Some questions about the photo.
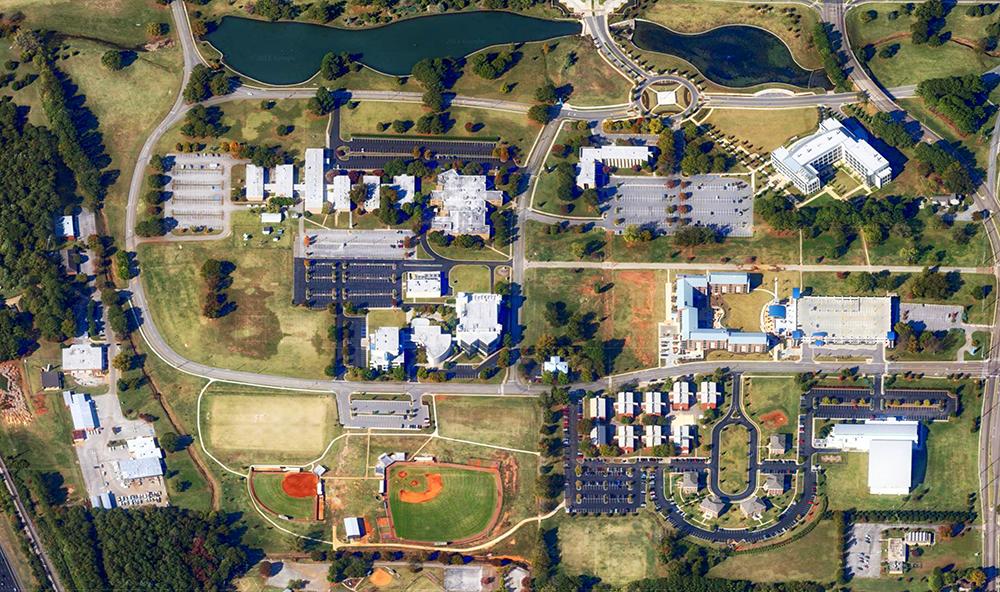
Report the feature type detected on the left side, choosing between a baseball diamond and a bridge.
baseball diamond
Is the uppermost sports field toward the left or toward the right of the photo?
left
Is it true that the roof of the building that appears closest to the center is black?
No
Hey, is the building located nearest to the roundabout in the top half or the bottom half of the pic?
top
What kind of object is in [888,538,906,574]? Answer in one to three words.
building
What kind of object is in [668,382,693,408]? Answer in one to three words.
house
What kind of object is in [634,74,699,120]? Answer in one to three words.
roundabout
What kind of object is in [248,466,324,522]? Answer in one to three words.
baseball field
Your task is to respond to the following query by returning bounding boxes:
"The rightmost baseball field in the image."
[376,457,502,545]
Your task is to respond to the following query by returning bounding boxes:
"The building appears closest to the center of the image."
[457,292,502,354]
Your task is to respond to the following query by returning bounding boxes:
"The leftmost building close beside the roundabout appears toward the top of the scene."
[577,147,653,189]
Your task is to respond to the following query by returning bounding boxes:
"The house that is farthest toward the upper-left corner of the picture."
[57,216,74,238]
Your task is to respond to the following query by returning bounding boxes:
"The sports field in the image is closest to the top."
[209,393,330,451]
